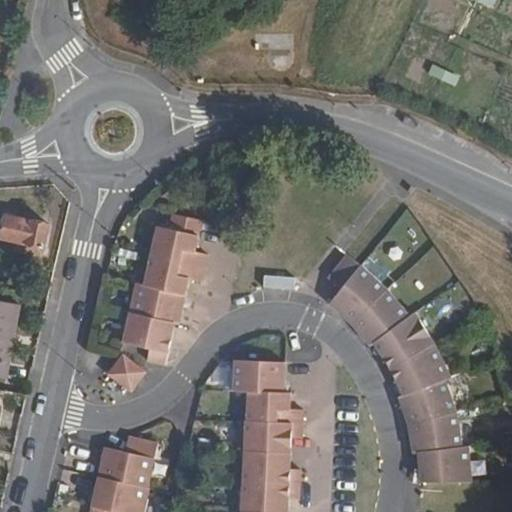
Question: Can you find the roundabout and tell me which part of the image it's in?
top left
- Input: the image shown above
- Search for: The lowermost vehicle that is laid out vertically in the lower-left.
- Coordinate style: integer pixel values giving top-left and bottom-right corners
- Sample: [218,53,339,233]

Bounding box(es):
[12,477,25,504]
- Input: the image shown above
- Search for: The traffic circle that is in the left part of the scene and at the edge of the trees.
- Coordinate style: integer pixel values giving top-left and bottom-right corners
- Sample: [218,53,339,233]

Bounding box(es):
[0,0,210,260]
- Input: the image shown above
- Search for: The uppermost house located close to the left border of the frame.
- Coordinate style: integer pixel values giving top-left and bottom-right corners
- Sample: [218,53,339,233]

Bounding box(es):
[0,212,49,254]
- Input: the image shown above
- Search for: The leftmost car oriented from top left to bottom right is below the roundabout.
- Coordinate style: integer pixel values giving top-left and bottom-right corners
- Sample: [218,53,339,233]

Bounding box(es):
[104,432,124,448]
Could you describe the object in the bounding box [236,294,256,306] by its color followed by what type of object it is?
white vehicle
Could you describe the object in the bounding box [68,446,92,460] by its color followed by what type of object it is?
white vehicle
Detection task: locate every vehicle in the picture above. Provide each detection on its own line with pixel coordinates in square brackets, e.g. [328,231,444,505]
[12,477,25,504]
[334,396,359,408]
[300,482,310,506]
[287,364,310,374]
[336,411,358,422]
[336,424,358,434]
[35,392,46,416]
[64,256,76,280]
[336,434,358,444]
[336,481,357,491]
[236,294,256,306]
[68,446,92,460]
[74,461,96,472]
[334,503,356,512]
[104,432,124,448]
[334,492,356,502]
[289,331,301,352]
[334,456,357,466]
[334,468,358,478]
[335,446,356,456]
[292,438,310,448]
[70,0,80,20]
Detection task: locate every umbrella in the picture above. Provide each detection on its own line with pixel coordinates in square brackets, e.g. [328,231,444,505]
[389,246,403,260]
